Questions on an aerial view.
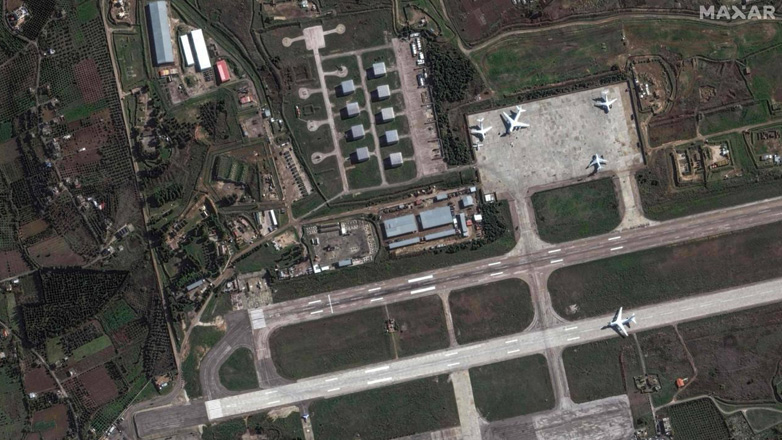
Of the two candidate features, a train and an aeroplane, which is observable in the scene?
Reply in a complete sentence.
Of the two, only an aeroplane appears.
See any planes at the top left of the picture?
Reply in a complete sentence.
No, no plane is visible at the top left of the picture.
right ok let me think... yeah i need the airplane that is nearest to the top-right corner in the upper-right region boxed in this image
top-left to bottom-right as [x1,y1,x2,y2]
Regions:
[597,89,618,110]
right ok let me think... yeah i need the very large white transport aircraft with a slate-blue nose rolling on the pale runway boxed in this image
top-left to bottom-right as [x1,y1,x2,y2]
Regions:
[608,306,635,335]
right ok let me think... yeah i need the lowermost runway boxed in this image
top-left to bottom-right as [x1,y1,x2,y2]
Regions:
[205,280,782,420]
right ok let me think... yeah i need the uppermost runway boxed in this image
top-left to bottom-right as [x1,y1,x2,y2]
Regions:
[247,196,782,332]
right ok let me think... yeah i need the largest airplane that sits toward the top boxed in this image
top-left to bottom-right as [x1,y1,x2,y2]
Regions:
[503,105,530,132]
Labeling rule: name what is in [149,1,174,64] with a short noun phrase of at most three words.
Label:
hangar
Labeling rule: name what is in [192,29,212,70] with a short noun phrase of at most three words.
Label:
building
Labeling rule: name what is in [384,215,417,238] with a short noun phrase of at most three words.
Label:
building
